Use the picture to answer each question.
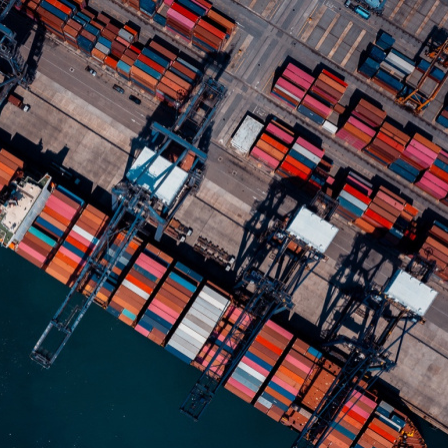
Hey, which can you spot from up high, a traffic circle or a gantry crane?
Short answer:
gantry crane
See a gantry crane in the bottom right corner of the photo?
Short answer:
Yes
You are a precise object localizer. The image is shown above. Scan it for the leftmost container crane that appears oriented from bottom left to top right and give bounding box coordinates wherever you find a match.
[28,77,228,370]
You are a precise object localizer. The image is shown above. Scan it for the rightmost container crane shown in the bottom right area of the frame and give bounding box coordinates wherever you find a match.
[284,250,443,448]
